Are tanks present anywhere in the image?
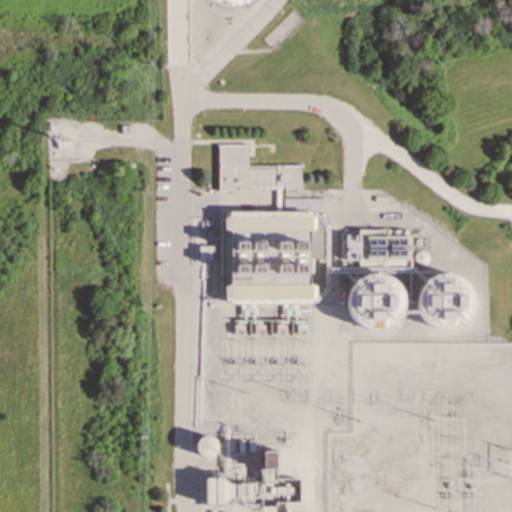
Yes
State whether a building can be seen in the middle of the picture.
Yes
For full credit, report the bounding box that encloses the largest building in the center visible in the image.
[222,210,326,304]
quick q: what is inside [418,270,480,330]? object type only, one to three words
storage tank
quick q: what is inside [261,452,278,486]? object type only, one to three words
house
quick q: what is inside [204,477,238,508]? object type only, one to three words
building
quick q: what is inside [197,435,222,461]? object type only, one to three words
silo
